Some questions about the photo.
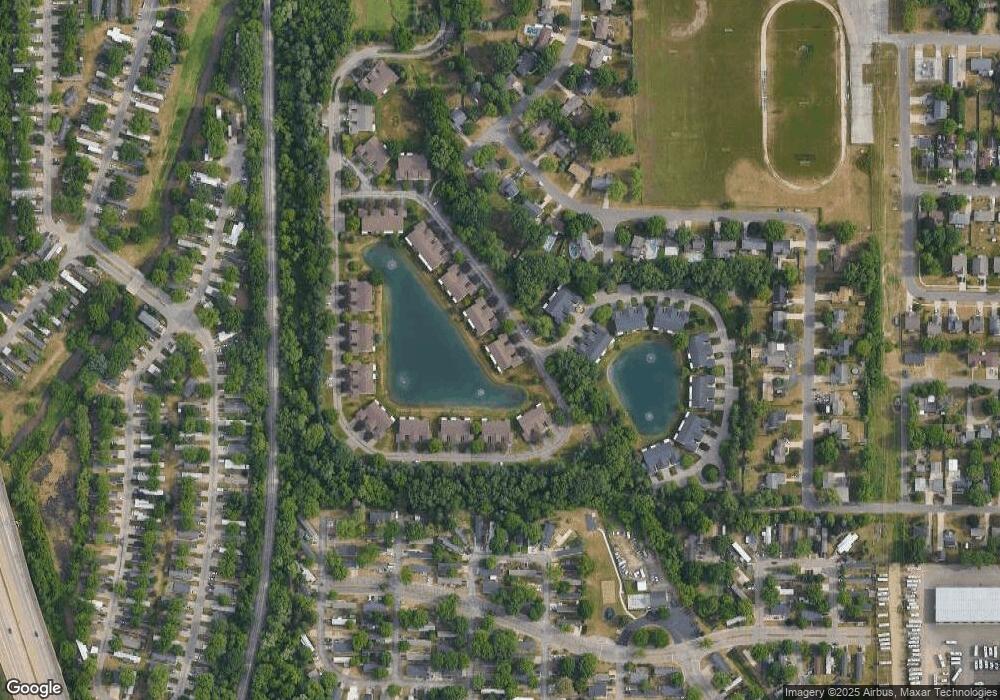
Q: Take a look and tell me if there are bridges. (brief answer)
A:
Yes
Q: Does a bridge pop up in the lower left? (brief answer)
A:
No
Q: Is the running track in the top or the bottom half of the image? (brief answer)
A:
top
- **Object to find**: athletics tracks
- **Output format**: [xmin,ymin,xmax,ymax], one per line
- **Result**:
[762,0,846,190]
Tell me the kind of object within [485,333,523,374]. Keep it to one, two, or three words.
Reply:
house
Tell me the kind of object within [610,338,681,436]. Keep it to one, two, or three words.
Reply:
pond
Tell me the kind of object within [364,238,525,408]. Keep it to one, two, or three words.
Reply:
pond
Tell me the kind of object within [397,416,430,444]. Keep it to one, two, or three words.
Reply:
house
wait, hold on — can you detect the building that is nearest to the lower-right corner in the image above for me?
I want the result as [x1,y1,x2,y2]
[936,588,1000,623]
